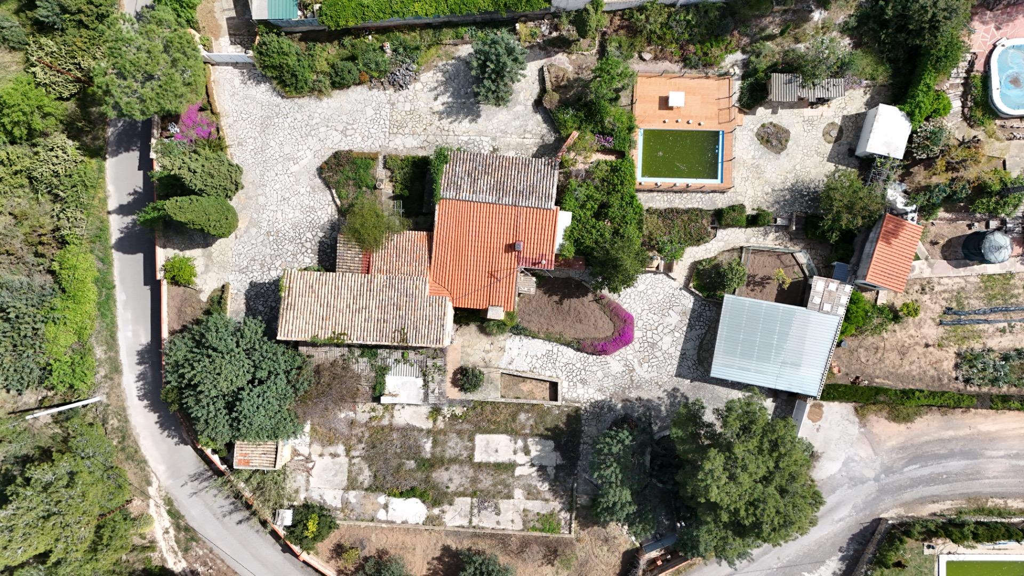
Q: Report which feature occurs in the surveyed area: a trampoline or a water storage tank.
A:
water storage tank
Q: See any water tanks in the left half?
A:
No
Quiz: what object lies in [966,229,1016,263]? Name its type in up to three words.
water tank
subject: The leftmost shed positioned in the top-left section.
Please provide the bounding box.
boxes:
[252,0,306,31]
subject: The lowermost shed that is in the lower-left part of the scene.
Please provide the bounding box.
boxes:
[230,433,297,469]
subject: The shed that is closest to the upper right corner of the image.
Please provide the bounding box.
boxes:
[853,104,911,162]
